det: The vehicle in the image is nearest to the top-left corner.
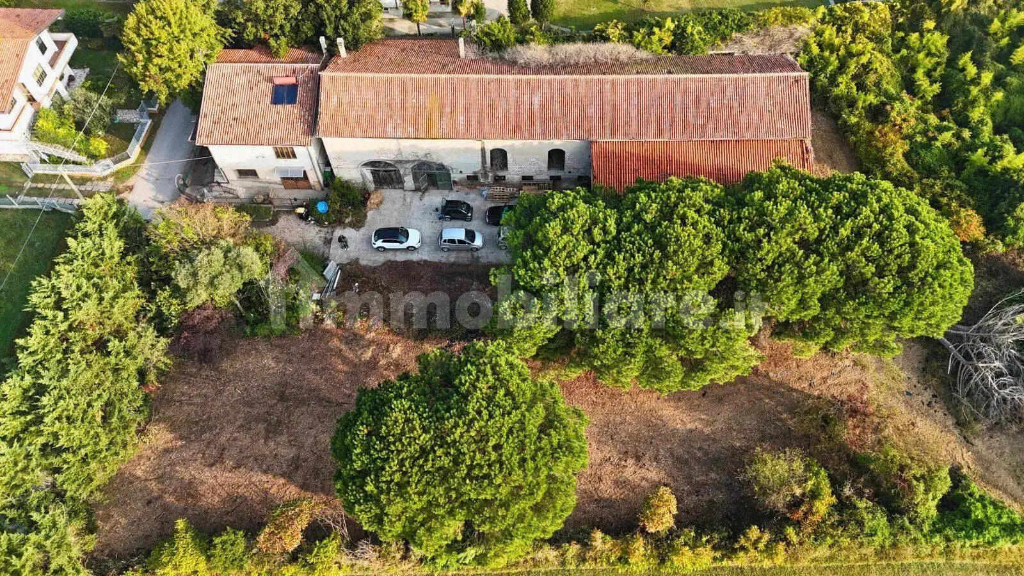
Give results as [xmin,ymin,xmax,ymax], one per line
[371,225,422,252]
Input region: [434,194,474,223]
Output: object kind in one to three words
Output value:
car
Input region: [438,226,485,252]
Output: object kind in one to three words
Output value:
car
